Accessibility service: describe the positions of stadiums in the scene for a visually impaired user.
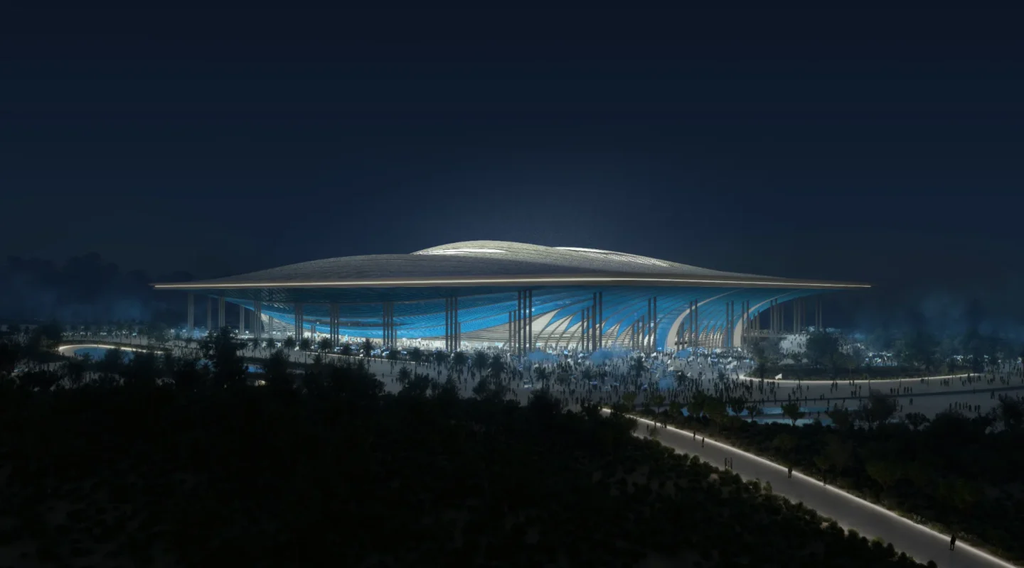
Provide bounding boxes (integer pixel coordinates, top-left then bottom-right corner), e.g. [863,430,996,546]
[151,240,873,352]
